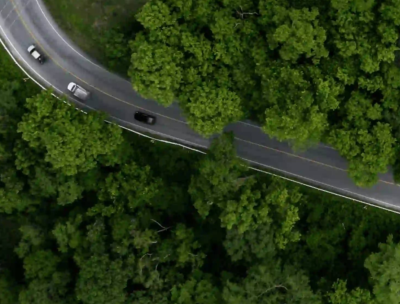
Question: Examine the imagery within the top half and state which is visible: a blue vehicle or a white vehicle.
white vehicle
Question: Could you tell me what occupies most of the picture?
trees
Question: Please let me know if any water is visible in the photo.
No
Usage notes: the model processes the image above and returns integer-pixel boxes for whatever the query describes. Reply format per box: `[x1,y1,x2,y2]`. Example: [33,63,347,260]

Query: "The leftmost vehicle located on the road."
[25,44,48,68]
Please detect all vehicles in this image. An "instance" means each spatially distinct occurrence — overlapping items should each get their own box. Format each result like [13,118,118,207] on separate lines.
[67,82,93,102]
[25,44,48,68]
[134,110,157,124]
